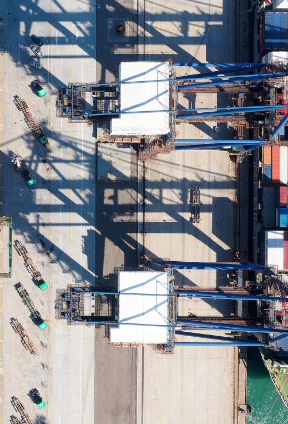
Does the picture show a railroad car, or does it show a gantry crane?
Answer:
gantry crane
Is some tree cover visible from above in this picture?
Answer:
No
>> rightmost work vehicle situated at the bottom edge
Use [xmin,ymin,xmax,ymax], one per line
[29,388,45,408]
